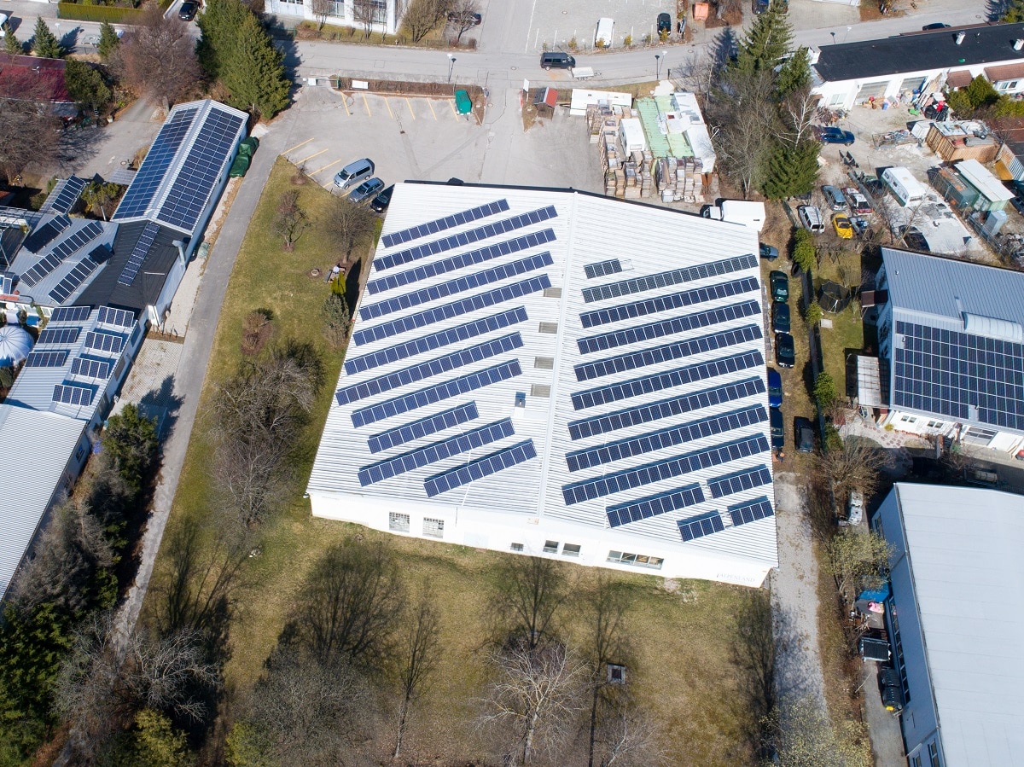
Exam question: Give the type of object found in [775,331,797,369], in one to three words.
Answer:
car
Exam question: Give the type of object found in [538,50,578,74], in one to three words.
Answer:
vehicle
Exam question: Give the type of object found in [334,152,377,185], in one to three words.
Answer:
van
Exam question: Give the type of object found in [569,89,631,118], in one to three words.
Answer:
shed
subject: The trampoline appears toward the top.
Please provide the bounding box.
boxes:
[816,275,858,313]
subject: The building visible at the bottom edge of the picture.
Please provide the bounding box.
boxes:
[869,483,1024,767]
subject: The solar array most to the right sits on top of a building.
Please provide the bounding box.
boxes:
[894,320,1024,431]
